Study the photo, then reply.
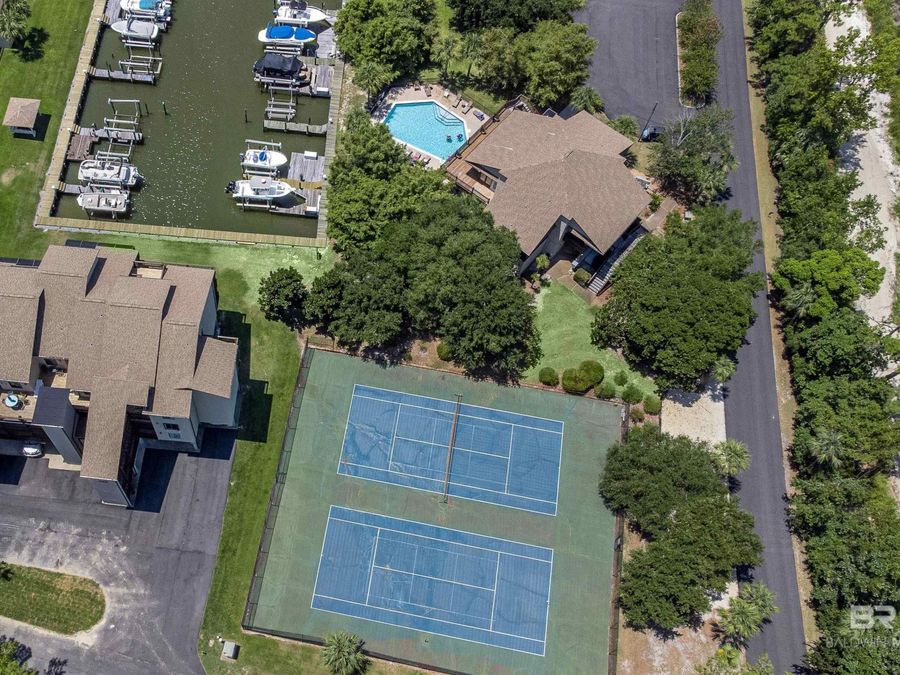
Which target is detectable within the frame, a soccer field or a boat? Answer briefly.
boat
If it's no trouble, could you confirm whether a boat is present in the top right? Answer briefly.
No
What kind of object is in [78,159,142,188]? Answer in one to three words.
boat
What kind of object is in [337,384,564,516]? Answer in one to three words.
tennis court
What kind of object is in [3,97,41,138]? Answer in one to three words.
gazebo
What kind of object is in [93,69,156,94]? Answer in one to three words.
pier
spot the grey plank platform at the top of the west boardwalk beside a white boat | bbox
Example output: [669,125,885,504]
[102,0,122,25]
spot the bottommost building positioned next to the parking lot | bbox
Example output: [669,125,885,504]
[465,110,651,268]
